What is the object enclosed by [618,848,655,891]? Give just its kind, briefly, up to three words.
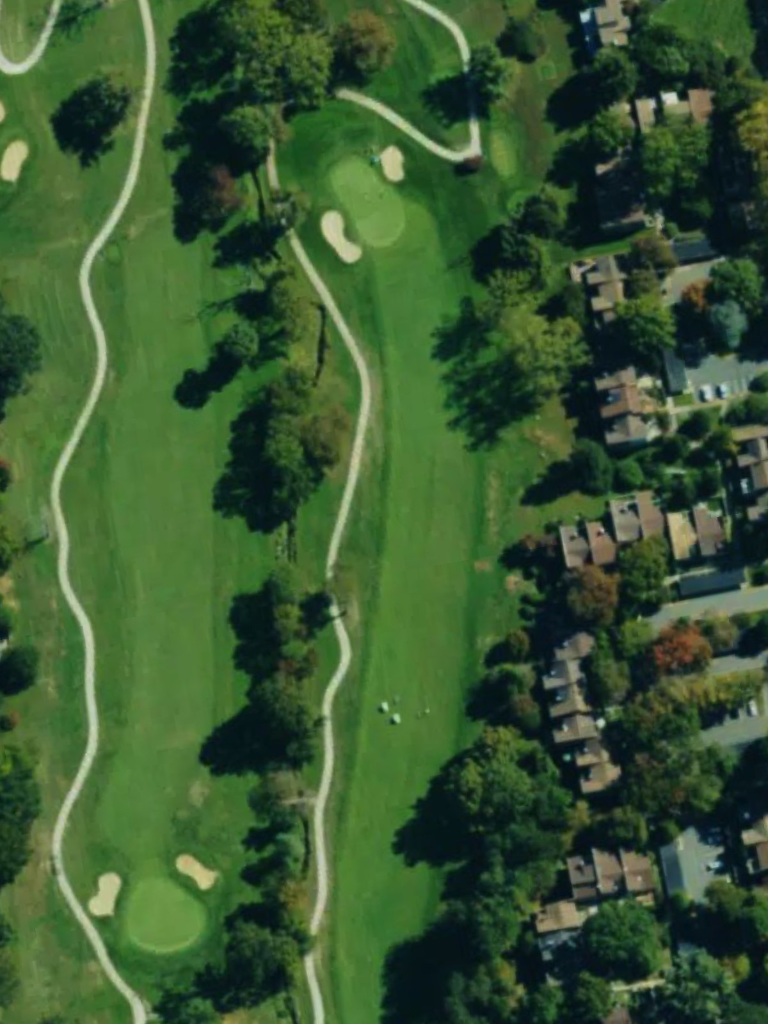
house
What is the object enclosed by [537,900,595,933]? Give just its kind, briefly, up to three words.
house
